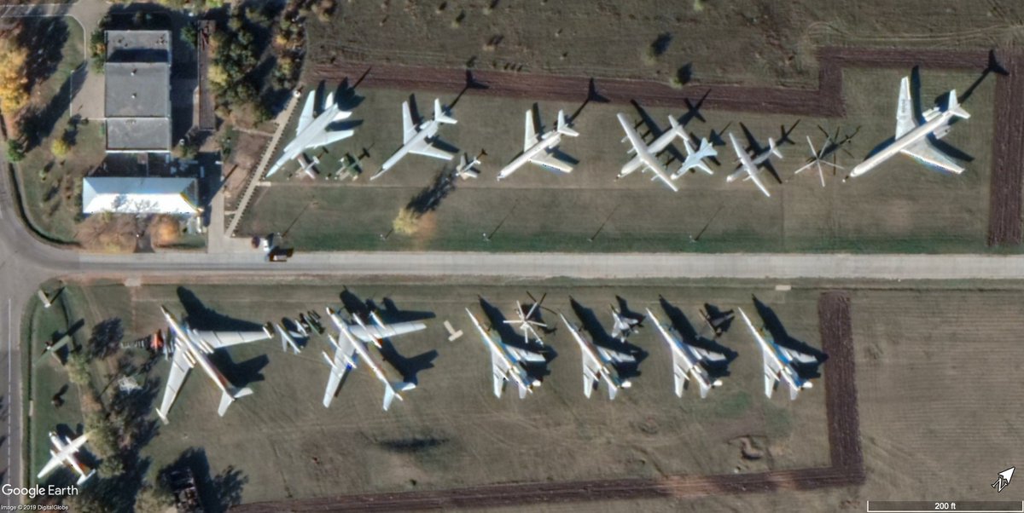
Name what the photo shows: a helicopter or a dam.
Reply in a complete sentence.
Visible in the photo is a helicopter.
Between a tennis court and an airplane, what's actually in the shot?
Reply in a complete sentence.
Visible in the photo is an airplane.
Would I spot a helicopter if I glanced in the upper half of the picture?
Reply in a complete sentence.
Yes, a helicopter appears in the upper half of the picture.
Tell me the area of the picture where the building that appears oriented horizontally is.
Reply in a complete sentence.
The building that appears oriented horizontally is in the left part of the image.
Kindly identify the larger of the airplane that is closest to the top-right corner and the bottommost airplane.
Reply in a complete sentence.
Of the two, the airplane that is closest to the top-right corner is bigger, while the bottommost airplane is smaller.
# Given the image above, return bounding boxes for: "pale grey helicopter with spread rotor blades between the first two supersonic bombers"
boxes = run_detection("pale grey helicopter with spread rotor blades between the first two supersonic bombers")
[504,302,547,347]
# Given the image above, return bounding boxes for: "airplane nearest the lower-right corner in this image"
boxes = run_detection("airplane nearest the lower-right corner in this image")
[739,308,819,399]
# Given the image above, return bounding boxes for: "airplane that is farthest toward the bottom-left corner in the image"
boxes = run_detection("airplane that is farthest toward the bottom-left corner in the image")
[37,433,94,486]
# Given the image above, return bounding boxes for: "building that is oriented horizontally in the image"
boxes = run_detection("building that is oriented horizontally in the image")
[83,177,205,232]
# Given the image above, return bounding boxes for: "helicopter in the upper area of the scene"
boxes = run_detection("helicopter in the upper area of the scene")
[795,136,848,186]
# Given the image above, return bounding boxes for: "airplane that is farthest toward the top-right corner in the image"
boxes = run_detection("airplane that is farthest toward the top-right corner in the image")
[851,75,971,176]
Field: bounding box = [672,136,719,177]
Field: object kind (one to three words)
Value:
airplane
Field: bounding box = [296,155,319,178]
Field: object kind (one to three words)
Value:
airplane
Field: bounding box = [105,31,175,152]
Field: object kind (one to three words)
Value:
building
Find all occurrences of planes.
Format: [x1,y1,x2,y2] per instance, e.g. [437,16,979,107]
[559,313,639,404]
[266,89,354,177]
[688,308,729,341]
[727,132,784,196]
[296,155,319,178]
[499,108,579,178]
[466,309,546,400]
[611,305,638,343]
[155,306,272,421]
[618,114,692,193]
[337,156,362,181]
[457,154,482,176]
[37,433,94,486]
[31,334,71,373]
[851,75,971,176]
[672,136,719,177]
[739,308,819,399]
[372,100,457,178]
[316,307,425,409]
[646,308,726,399]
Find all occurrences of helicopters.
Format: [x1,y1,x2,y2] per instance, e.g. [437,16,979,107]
[504,302,547,347]
[795,136,848,186]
